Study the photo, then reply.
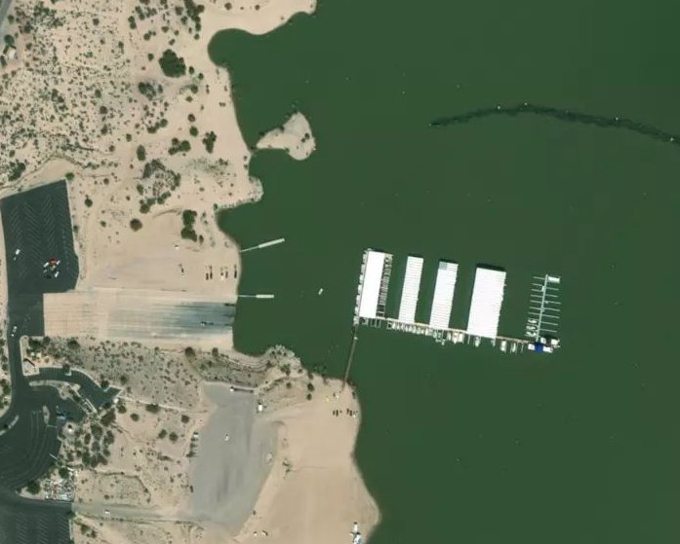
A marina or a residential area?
marina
